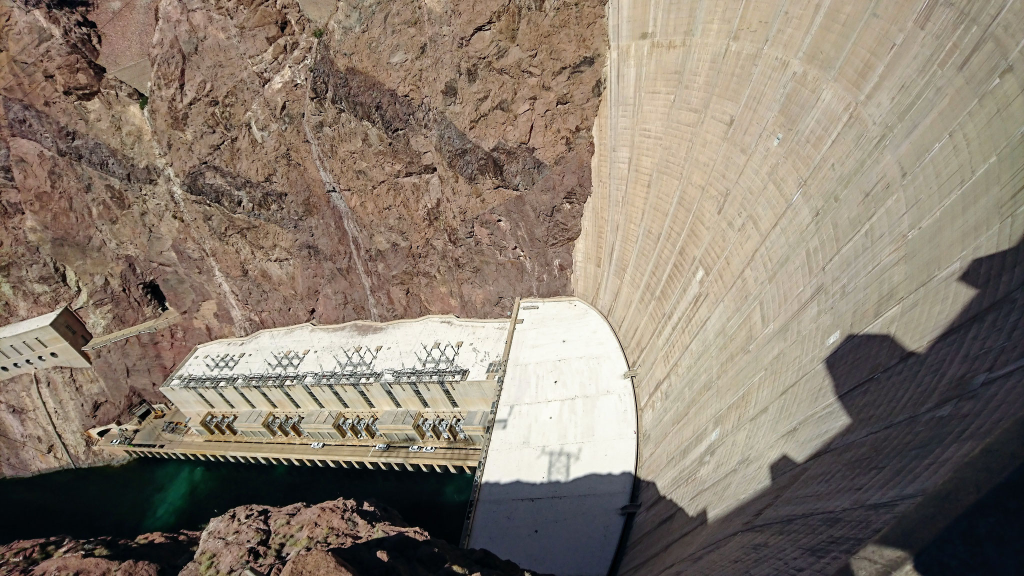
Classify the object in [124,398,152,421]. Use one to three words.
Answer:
shed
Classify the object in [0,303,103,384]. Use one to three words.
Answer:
building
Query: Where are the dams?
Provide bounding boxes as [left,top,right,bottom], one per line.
[487,0,1024,576]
